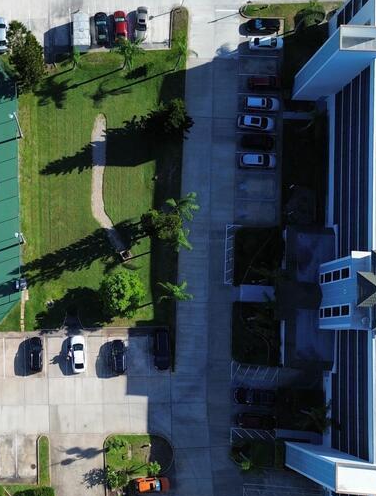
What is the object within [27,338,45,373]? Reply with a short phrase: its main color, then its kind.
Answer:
black car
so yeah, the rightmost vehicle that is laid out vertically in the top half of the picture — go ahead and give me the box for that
[133,5,150,44]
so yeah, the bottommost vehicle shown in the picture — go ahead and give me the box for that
[135,476,171,495]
